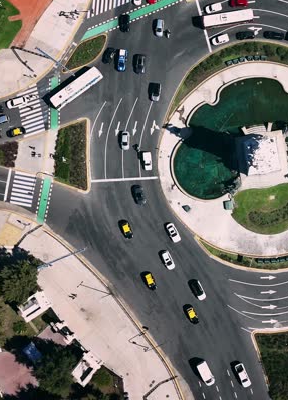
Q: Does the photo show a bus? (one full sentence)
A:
Yes, a bus appears in the view.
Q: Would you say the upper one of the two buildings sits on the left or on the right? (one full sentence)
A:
The upper one of the two buildings appears in the left half of the scene.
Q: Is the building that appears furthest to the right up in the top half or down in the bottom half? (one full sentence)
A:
The bottom half of the photo is where the building that appears furthest to the right is.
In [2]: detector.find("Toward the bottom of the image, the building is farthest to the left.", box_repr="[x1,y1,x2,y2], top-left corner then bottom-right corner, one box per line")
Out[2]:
[18,288,55,323]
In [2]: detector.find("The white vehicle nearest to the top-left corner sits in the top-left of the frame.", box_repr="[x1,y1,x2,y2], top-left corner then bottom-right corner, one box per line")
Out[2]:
[7,95,30,109]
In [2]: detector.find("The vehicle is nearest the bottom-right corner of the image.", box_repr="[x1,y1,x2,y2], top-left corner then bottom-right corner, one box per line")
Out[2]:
[236,363,250,386]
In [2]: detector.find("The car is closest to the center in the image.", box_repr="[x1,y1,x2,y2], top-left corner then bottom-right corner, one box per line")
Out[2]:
[133,185,146,205]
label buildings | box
[18,288,55,323]
[76,349,106,381]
